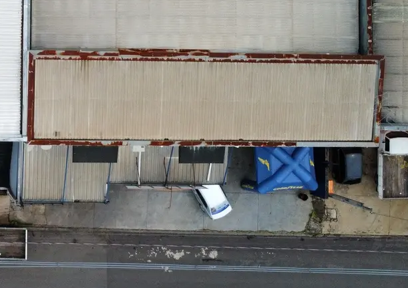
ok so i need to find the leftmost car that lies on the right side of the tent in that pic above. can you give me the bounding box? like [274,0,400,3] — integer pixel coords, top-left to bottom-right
[329,146,363,186]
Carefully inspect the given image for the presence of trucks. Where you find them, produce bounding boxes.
[373,127,408,200]
[0,227,27,261]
